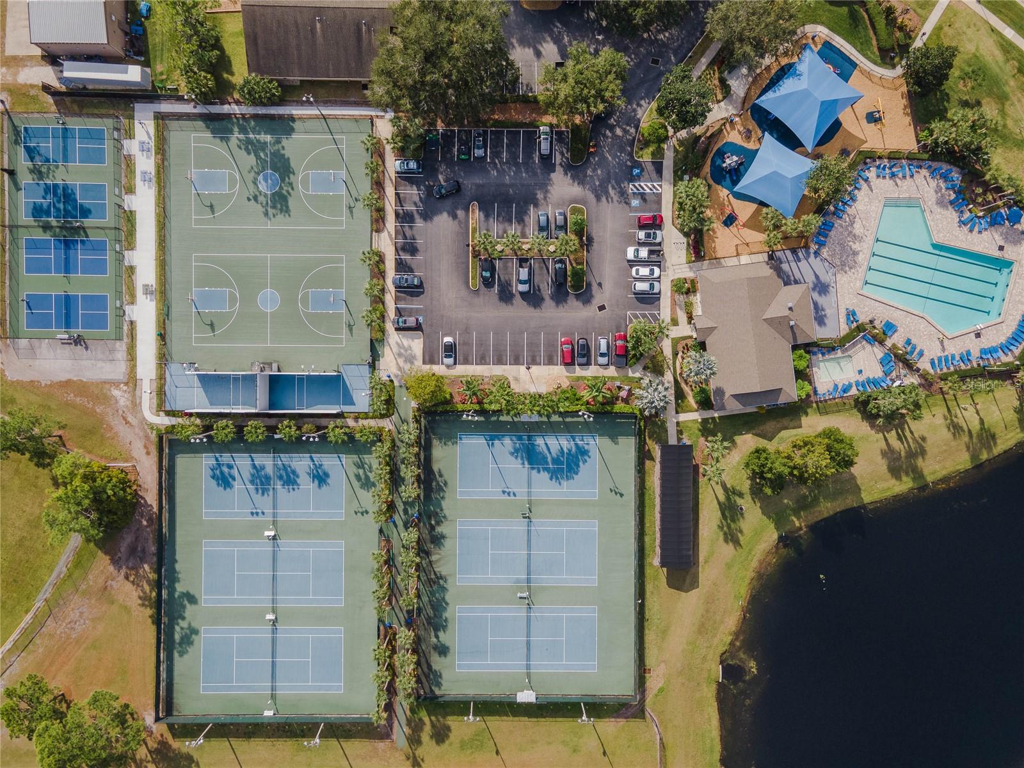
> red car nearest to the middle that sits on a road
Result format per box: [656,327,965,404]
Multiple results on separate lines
[561,338,574,365]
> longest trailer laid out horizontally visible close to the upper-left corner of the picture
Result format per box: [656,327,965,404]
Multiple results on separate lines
[53,60,144,87]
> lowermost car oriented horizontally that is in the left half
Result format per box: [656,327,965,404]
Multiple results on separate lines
[393,316,421,329]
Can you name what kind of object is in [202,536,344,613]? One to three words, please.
tennis court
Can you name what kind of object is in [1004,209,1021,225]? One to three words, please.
umbrella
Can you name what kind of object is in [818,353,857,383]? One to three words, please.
swimming pool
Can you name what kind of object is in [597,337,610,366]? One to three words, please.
vehicle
